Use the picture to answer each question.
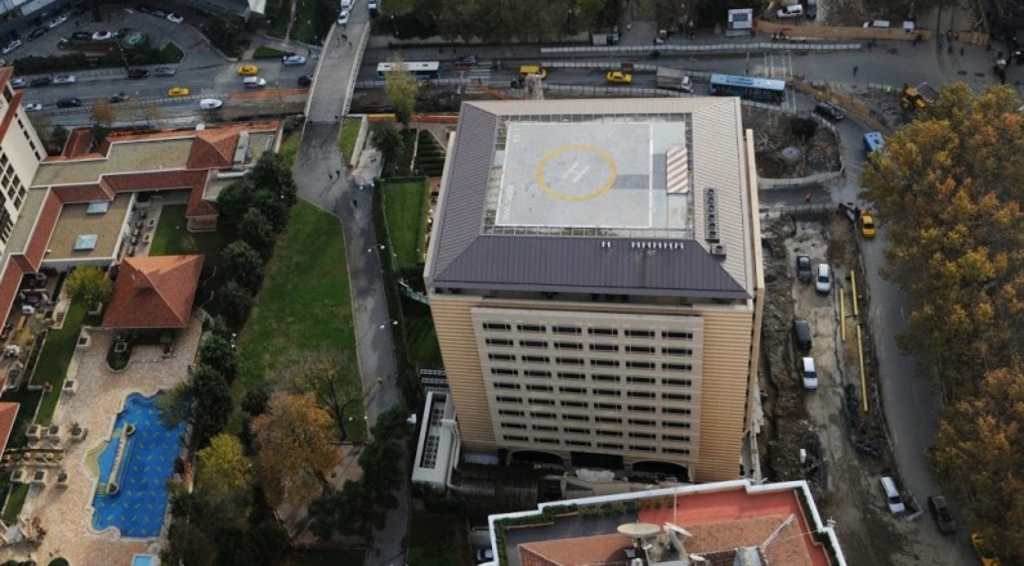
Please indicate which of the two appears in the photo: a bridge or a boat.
bridge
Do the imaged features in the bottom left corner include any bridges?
No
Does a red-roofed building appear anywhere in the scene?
Yes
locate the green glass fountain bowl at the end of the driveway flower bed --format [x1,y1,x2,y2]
[122,32,145,48]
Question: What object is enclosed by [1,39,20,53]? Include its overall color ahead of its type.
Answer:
gray car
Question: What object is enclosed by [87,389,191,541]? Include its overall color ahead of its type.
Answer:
blue swimming pool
